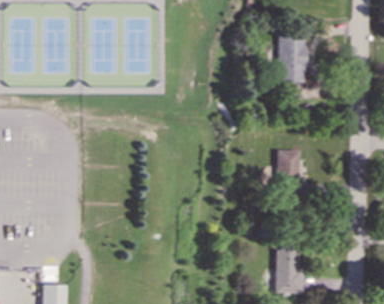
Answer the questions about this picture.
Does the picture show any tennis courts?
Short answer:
Yes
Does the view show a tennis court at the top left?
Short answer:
Yes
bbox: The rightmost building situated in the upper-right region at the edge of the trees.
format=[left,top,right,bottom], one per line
[278,36,309,84]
